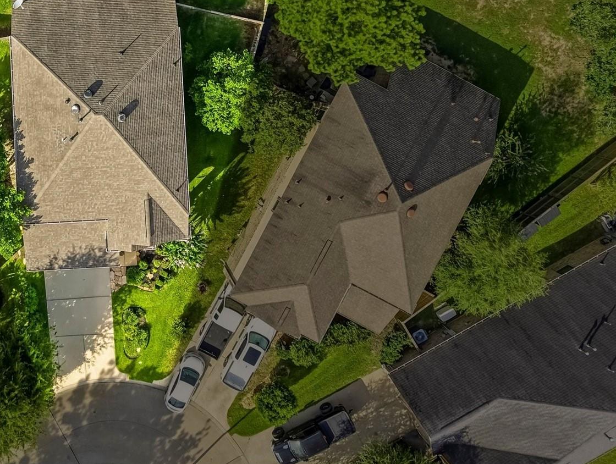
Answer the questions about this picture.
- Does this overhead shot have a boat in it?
No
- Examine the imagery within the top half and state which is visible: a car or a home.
home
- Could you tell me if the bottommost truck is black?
Yes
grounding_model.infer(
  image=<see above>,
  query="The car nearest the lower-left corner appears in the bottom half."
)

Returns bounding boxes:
[162,346,206,416]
